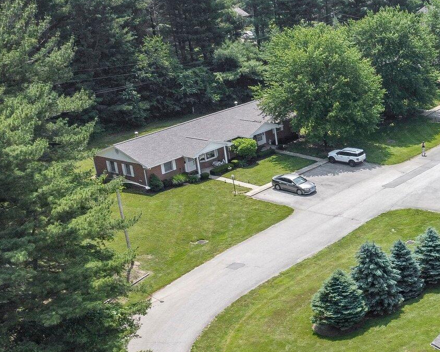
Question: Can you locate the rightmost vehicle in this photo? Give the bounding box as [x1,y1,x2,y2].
[326,145,368,168]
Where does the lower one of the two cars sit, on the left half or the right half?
right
